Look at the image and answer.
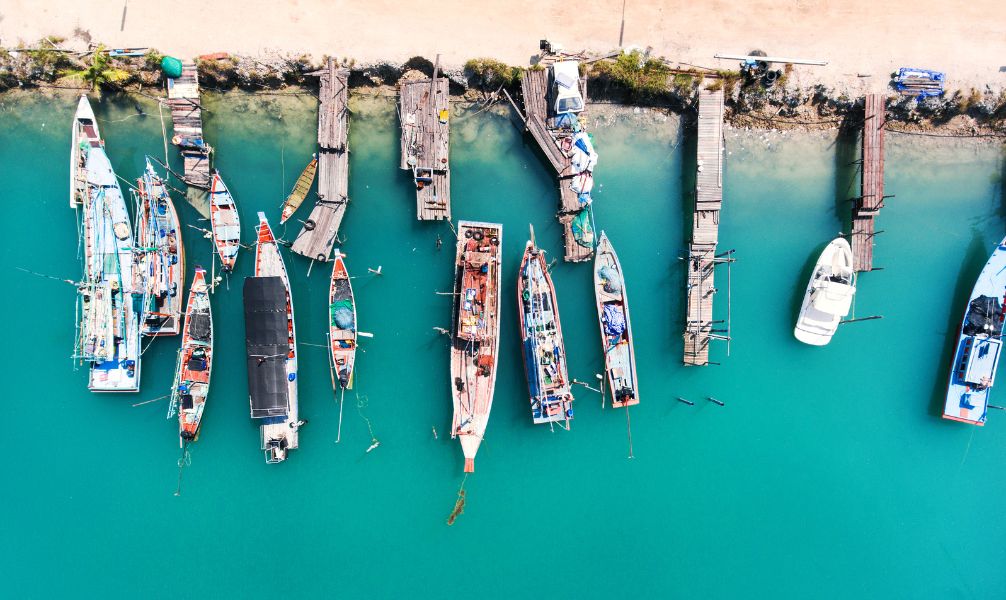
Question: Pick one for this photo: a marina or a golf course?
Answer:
marina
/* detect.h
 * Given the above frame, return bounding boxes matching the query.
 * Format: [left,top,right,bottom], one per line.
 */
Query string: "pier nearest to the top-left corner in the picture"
[155,61,218,190]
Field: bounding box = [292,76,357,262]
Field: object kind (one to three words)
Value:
pier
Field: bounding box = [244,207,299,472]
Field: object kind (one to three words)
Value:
boat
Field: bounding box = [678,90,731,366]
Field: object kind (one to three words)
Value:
pier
